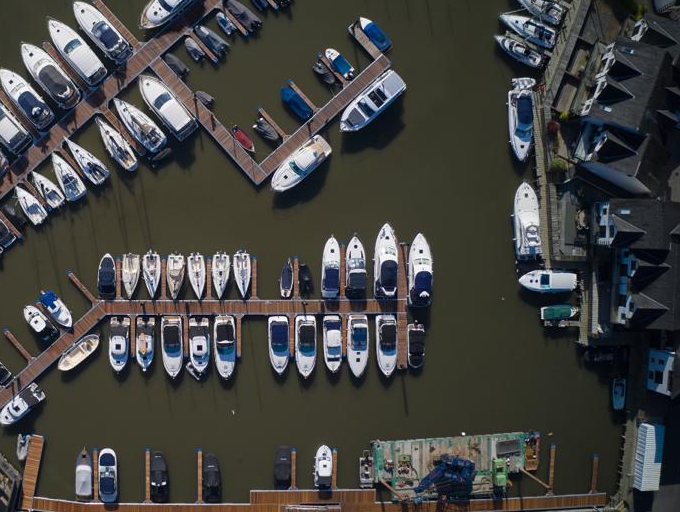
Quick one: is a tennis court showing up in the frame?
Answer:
No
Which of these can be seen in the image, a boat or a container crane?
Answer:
boat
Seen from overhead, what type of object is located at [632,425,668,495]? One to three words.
shed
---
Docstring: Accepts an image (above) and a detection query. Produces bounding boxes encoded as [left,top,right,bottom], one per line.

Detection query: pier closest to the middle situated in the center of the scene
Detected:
[336,242,350,301]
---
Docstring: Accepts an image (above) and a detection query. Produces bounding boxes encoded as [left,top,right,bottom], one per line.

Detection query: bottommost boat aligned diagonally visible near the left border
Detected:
[0,381,52,424]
